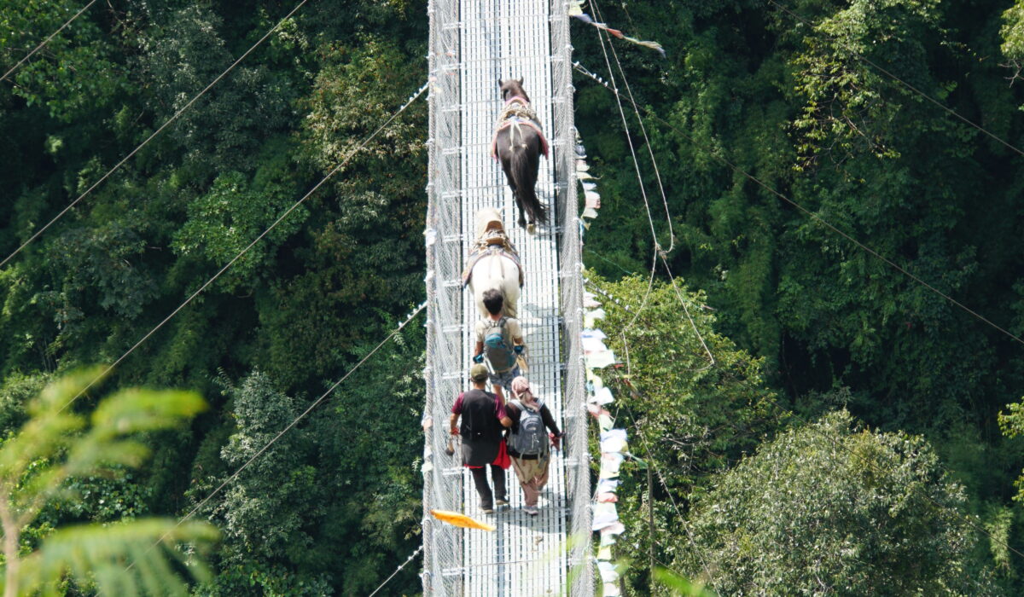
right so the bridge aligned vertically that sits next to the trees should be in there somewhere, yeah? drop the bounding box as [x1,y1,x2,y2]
[422,0,594,597]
